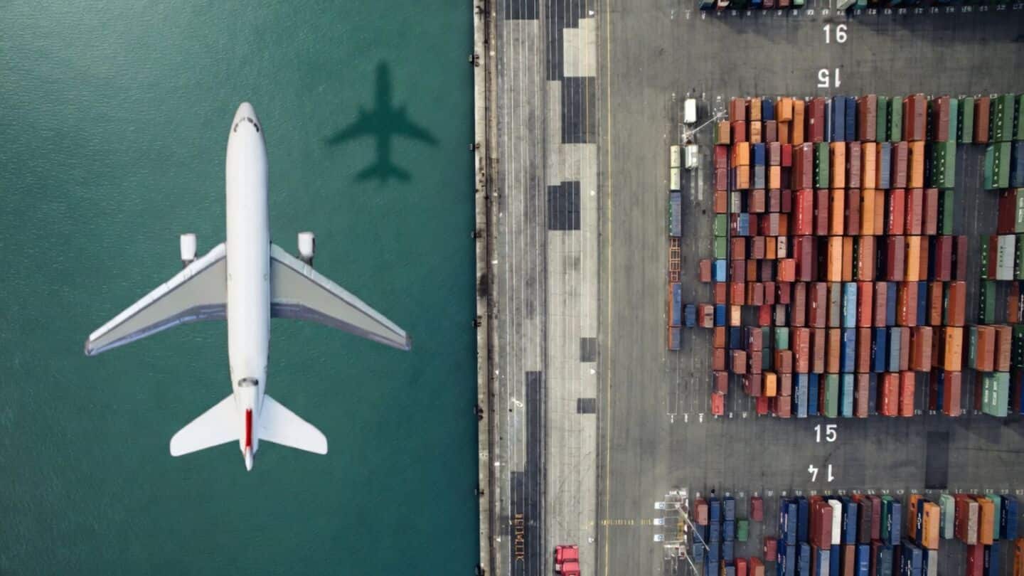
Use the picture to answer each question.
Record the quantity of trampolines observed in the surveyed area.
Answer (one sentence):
The count of trampolines is 0.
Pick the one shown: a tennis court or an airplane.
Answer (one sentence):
I can see an airplane in this picture.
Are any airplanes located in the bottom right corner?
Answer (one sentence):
No, in the bottom right corner there is no airplane.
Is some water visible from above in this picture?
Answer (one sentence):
Yes, water can be seen from above here.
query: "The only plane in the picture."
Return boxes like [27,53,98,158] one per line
[81,103,411,479]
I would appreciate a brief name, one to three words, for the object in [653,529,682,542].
vehicle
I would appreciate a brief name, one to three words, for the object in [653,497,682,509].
vehicle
